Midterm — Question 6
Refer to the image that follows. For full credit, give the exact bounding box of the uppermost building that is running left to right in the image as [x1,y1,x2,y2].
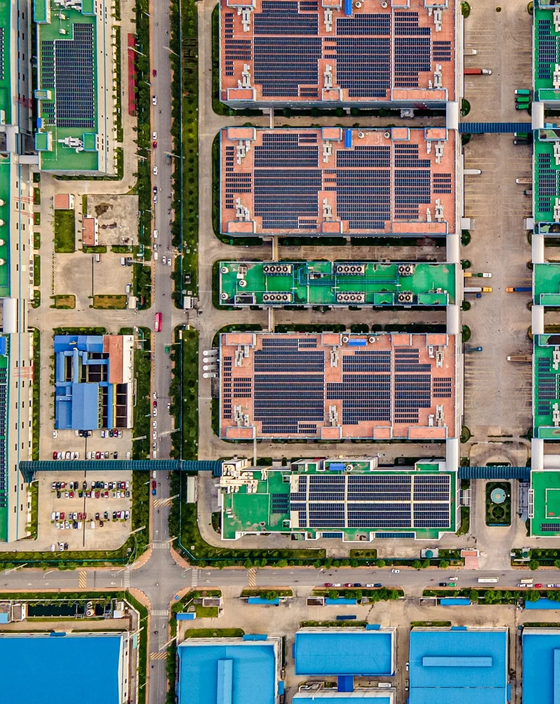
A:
[216,0,475,110]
